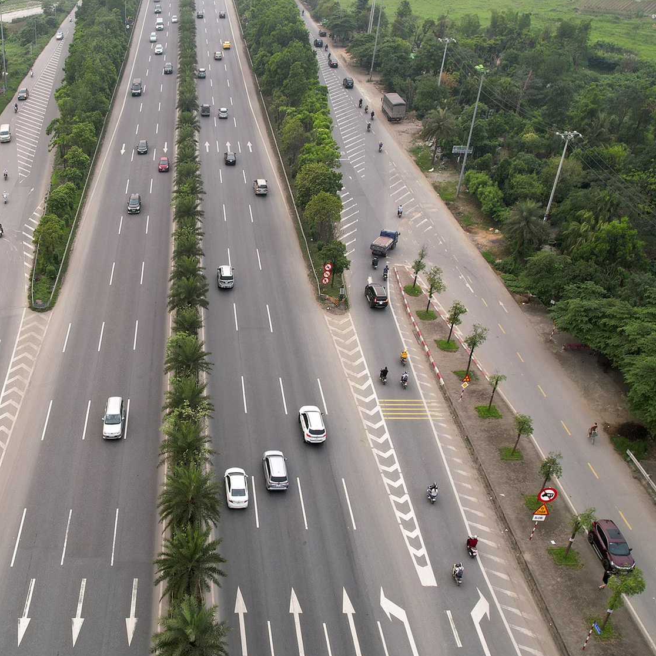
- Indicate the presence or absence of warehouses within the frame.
No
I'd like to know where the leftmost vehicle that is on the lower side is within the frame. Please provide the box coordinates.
[99,397,126,439]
